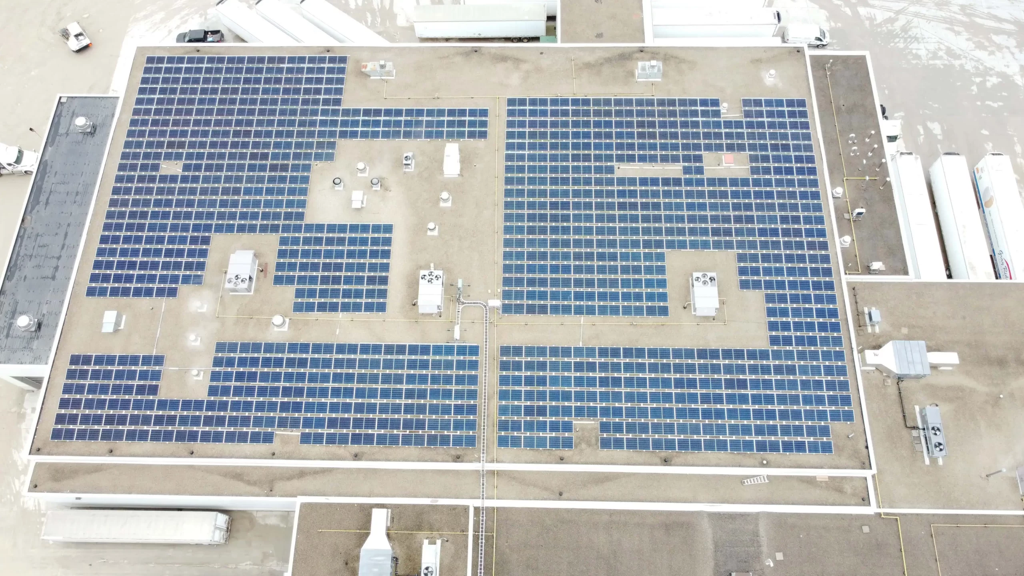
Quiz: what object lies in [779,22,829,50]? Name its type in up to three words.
van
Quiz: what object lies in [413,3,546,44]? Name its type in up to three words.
trailer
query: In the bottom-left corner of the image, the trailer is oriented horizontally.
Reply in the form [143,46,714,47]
[41,508,233,543]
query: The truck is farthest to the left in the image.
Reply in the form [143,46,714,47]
[0,141,39,172]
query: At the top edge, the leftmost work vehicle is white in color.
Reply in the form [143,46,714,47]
[60,17,99,56]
